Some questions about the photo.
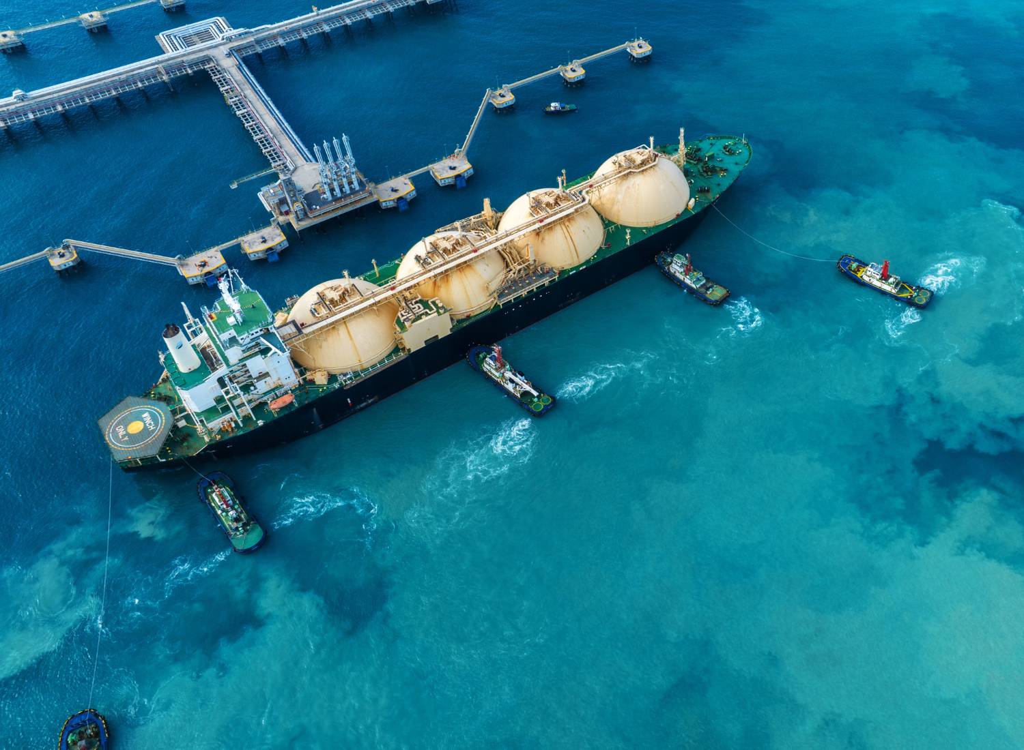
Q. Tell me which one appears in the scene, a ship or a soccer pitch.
ship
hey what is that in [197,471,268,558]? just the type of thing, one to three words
boat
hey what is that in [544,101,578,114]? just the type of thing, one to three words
boat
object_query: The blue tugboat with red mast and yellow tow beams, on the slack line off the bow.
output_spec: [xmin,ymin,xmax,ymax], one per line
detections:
[835,249,934,312]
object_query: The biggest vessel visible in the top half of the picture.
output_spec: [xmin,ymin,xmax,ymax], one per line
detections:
[98,125,751,470]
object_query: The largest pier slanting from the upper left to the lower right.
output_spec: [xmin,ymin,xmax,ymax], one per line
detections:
[152,45,318,181]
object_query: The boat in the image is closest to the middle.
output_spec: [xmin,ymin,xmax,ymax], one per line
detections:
[468,341,560,418]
